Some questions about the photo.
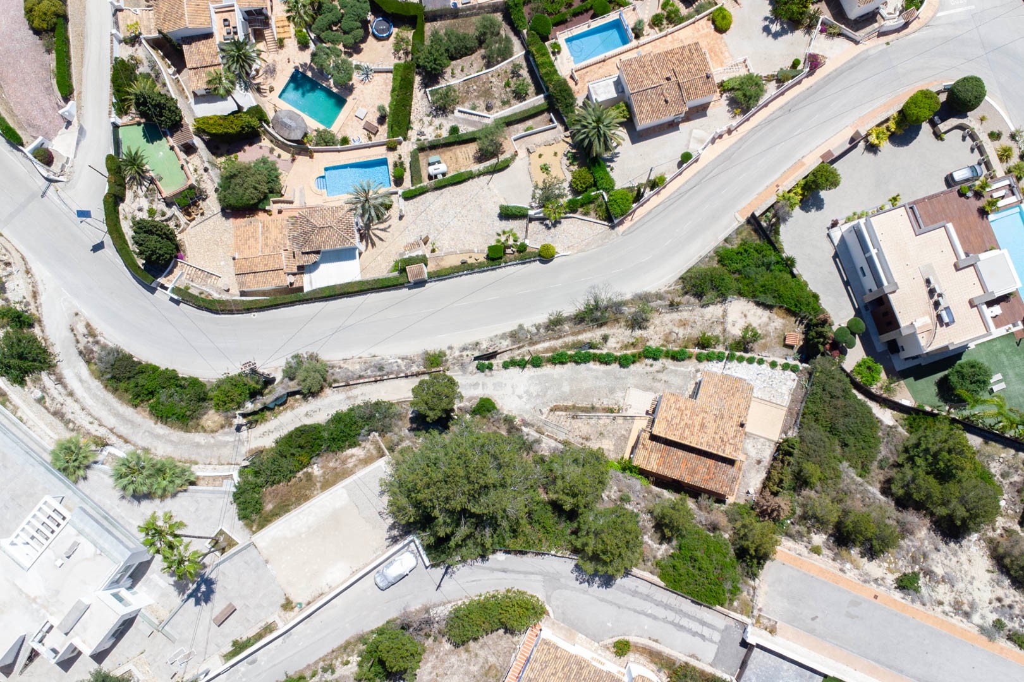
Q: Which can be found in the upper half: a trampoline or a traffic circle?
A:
trampoline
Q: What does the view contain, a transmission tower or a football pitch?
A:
transmission tower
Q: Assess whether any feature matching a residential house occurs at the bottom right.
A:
Yes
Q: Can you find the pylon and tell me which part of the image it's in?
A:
left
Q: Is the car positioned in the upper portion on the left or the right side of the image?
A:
right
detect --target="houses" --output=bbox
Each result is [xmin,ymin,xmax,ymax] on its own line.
[503,618,659,682]
[633,371,786,502]
[234,203,362,291]
[817,186,1024,359]
[739,644,824,682]
[587,41,717,129]
[118,0,288,116]
[0,413,171,677]
[844,0,900,21]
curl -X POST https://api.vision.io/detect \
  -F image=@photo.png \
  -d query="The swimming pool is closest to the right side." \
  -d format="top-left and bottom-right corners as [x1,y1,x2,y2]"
[988,204,1024,289]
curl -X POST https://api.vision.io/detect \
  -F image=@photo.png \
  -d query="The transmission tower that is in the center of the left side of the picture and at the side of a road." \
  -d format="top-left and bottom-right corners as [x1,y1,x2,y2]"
[226,358,283,390]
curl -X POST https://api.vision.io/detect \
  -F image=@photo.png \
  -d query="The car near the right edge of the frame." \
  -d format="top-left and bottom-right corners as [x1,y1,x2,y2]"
[940,164,984,189]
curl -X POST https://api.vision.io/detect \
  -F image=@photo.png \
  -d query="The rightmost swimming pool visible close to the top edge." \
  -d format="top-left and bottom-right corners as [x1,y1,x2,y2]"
[562,15,634,67]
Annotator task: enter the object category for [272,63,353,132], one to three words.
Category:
swimming pool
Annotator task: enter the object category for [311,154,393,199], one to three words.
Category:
swimming pool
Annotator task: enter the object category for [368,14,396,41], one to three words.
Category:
trampoline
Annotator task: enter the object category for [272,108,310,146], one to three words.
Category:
gazebo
